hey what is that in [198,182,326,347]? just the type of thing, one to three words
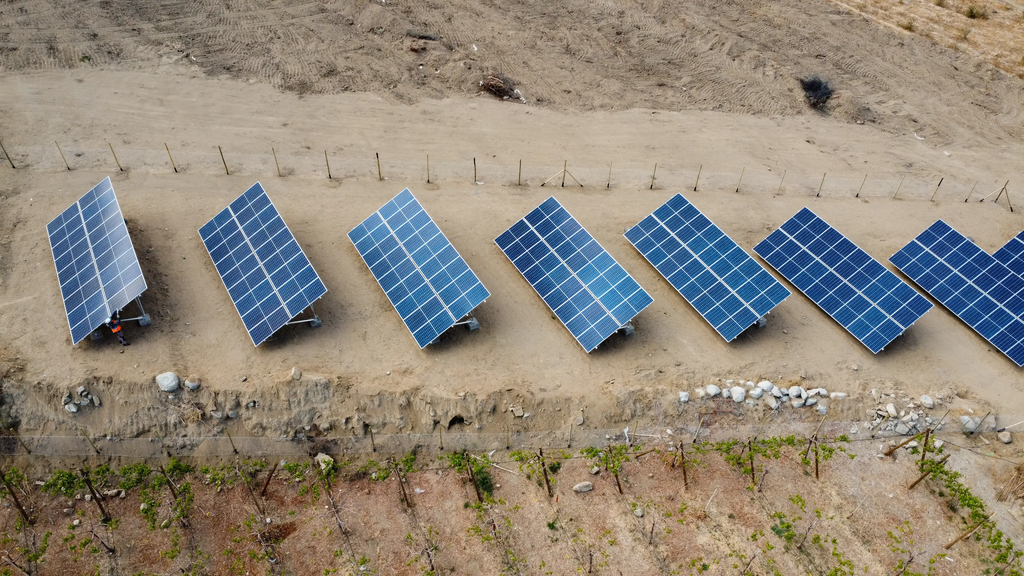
solar array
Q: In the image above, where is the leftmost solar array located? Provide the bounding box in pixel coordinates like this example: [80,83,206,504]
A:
[45,175,157,346]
